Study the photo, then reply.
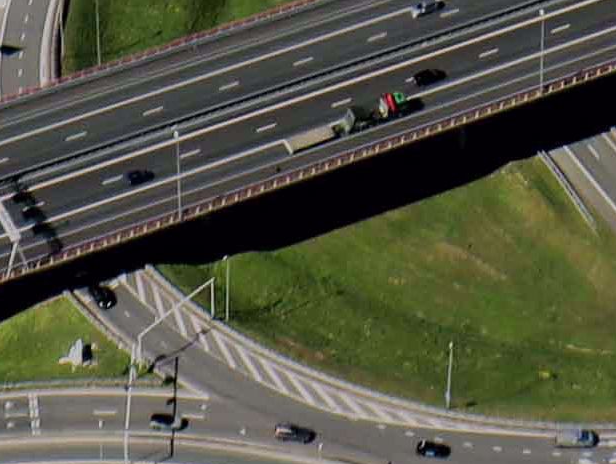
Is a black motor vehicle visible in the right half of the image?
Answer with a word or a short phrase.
Yes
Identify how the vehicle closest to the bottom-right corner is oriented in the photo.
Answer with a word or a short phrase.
from left to right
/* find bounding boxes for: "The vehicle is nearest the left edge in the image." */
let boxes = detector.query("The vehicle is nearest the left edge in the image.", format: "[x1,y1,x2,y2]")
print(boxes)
[88,285,114,309]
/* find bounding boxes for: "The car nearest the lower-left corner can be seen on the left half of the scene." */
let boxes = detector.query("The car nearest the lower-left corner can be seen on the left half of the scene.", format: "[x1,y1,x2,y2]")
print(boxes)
[149,415,180,431]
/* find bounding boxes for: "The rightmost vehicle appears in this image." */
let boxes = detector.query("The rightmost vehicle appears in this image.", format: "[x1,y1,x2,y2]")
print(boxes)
[555,429,595,449]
